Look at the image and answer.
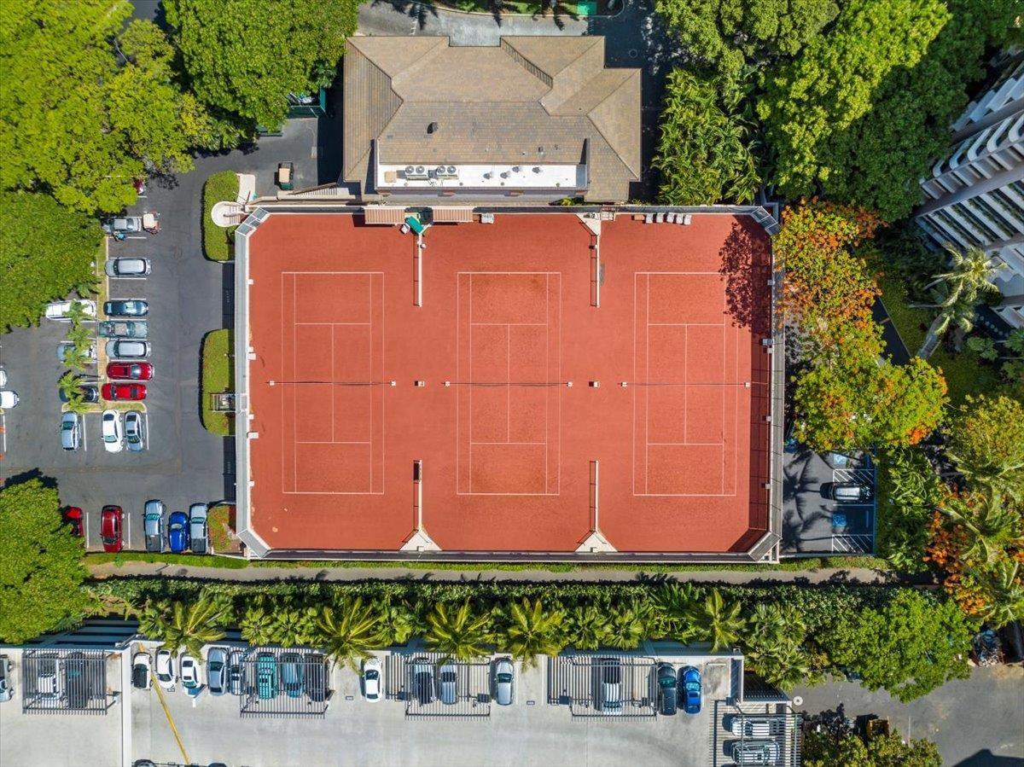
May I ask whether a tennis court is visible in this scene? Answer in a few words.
Yes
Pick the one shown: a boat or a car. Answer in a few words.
car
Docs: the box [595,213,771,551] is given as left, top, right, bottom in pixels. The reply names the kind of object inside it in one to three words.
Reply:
tennis court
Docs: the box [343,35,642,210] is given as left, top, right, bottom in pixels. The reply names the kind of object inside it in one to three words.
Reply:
building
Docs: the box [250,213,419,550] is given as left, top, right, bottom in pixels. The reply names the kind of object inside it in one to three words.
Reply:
tennis court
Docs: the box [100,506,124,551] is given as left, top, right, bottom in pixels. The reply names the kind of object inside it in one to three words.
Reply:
car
